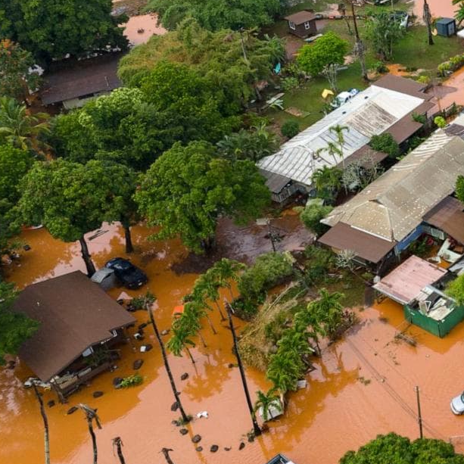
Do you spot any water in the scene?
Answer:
Yes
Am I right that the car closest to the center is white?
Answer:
No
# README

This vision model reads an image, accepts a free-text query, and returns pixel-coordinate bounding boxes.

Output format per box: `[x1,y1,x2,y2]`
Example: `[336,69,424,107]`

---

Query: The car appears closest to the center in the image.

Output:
[112,256,149,286]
